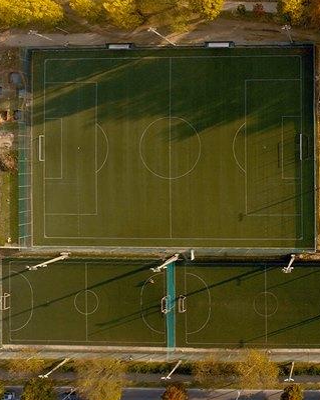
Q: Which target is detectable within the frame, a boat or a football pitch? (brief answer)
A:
football pitch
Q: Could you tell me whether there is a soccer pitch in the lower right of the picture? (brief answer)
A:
Yes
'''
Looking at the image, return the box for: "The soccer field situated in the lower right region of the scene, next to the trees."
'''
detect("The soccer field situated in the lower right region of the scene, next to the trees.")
[175,259,320,350]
